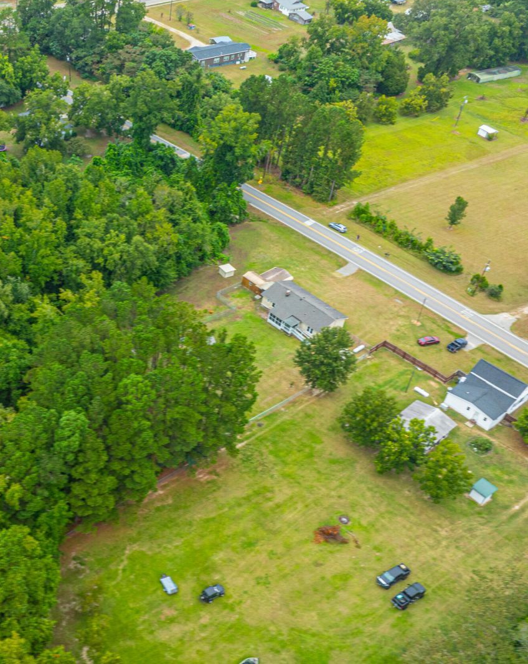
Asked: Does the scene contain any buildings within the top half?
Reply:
Yes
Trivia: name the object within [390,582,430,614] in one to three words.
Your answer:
truck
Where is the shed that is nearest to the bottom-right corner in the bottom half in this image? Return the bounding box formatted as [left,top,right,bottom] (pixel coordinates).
[468,484,499,510]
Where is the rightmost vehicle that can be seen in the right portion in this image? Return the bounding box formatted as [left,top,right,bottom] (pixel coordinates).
[444,337,472,353]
